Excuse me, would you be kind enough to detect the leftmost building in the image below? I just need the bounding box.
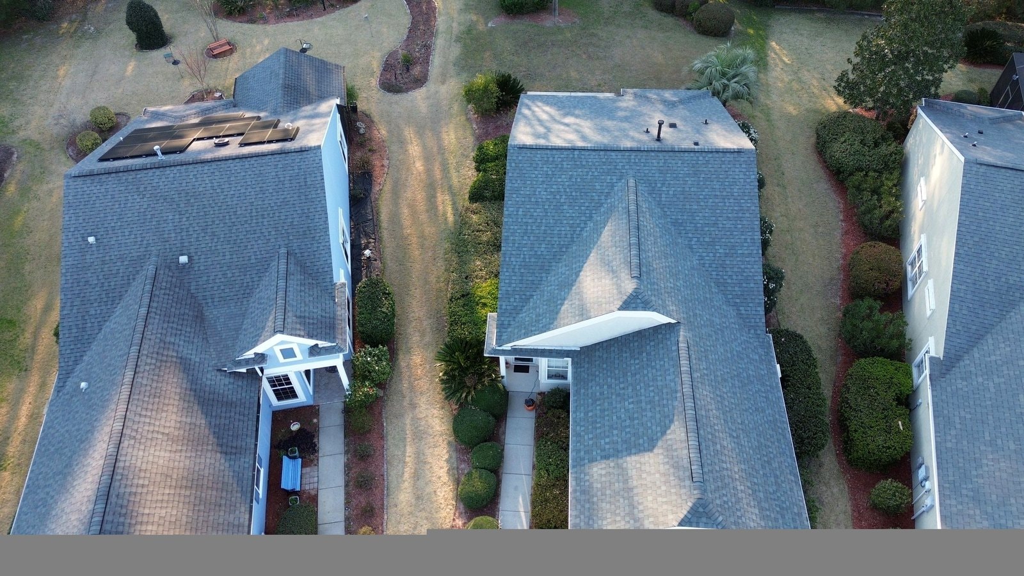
[0,48,355,576]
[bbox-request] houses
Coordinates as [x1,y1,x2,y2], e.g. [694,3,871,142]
[484,87,820,573]
[900,98,1024,576]
[0,48,355,576]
